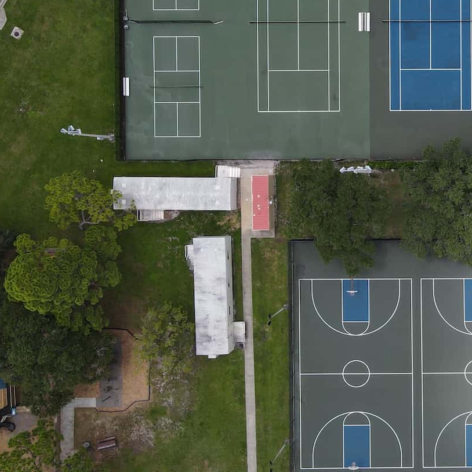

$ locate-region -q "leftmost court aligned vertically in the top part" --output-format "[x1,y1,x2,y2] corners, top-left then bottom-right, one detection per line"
[154,36,200,137]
